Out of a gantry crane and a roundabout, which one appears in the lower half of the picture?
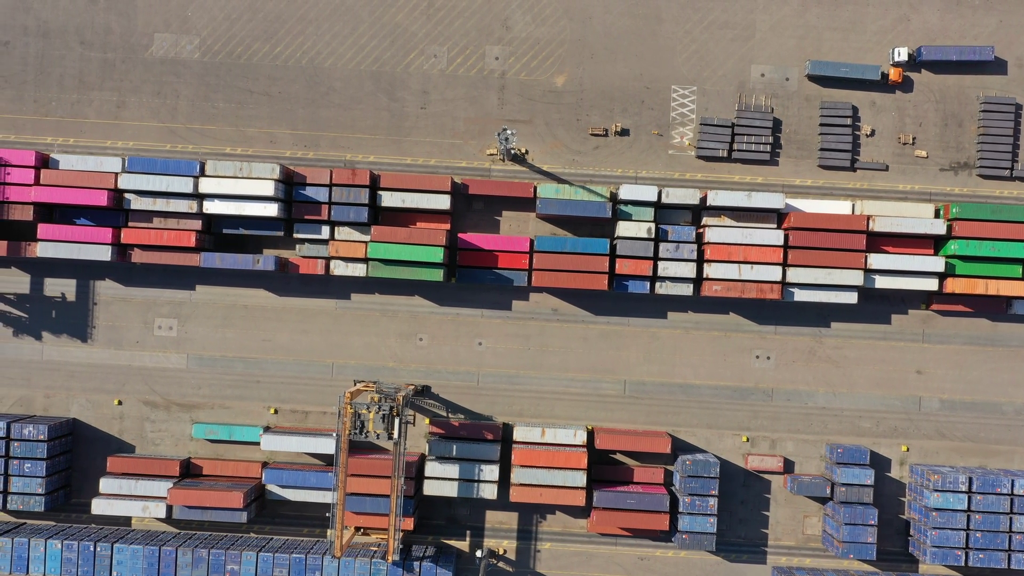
gantry crane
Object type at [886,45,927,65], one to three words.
vehicle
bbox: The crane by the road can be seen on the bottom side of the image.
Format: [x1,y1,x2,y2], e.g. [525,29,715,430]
[327,376,441,565]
